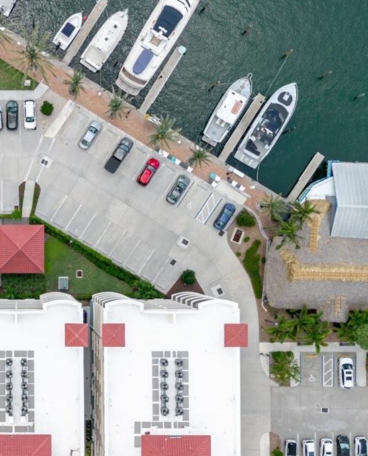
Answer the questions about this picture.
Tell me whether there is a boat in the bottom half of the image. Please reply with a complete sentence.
No, no boat appears in the bottom half of the image.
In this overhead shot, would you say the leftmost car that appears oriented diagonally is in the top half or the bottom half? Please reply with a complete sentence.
The leftmost car that appears oriented diagonally is in the top half of the image.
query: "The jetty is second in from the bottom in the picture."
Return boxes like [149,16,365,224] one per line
[219,92,266,162]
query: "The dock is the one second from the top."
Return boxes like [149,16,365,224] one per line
[139,46,186,112]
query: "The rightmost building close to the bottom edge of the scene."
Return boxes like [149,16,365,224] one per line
[86,295,248,456]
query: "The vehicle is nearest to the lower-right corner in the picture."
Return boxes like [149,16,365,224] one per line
[352,435,368,456]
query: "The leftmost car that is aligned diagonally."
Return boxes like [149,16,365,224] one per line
[78,118,103,151]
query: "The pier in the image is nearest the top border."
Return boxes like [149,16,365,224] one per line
[63,0,110,66]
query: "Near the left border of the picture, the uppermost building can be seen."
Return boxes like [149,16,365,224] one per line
[0,224,45,274]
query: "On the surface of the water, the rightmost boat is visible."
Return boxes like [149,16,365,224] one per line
[231,84,299,173]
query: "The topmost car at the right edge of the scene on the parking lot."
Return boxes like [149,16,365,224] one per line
[337,355,355,389]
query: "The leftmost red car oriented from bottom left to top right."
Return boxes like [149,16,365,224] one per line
[135,156,161,188]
